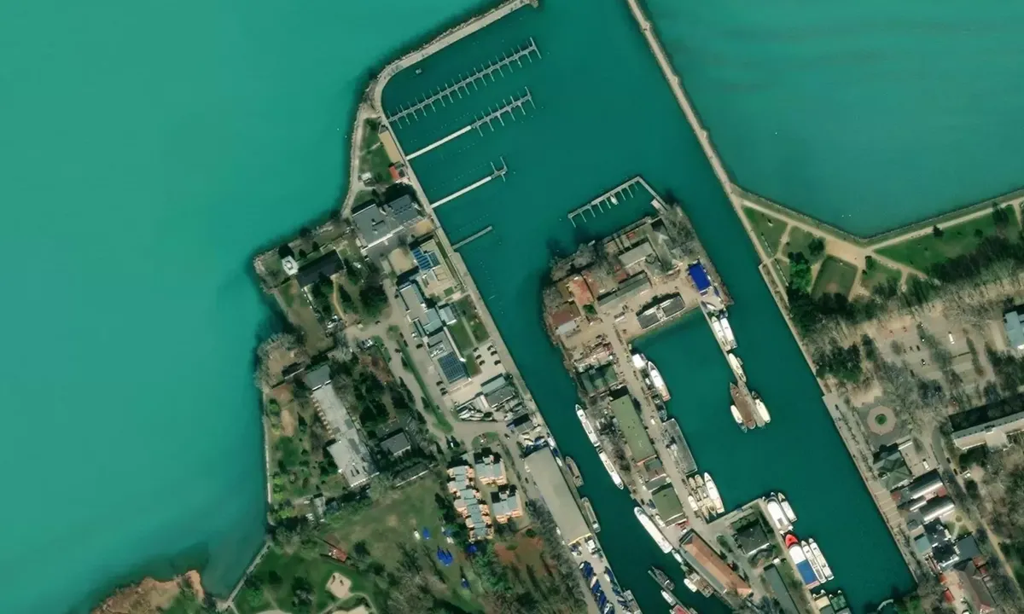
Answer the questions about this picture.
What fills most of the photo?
water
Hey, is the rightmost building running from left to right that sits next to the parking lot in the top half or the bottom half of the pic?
bottom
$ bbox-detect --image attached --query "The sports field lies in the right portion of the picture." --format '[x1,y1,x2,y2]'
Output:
[812,255,858,300]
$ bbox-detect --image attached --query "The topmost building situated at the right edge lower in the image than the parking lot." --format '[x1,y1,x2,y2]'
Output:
[952,412,1024,453]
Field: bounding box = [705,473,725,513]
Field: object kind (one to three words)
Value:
ship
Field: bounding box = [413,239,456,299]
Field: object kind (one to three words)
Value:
building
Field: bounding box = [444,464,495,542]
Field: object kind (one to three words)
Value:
house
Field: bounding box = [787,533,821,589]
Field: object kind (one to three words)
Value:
boat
